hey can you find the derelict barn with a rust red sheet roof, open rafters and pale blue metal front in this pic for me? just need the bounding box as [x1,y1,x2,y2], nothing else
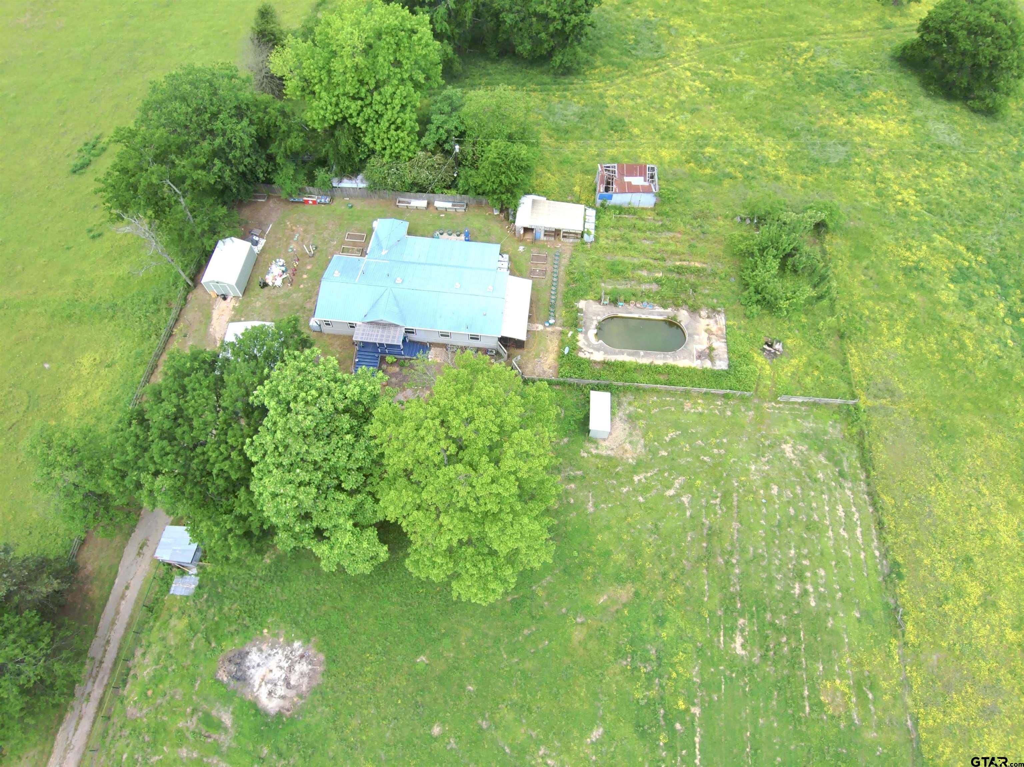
[595,165,658,207]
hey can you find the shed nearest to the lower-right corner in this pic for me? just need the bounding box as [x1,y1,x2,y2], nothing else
[589,390,613,438]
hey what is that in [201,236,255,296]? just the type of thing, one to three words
shed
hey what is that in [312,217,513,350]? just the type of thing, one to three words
house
